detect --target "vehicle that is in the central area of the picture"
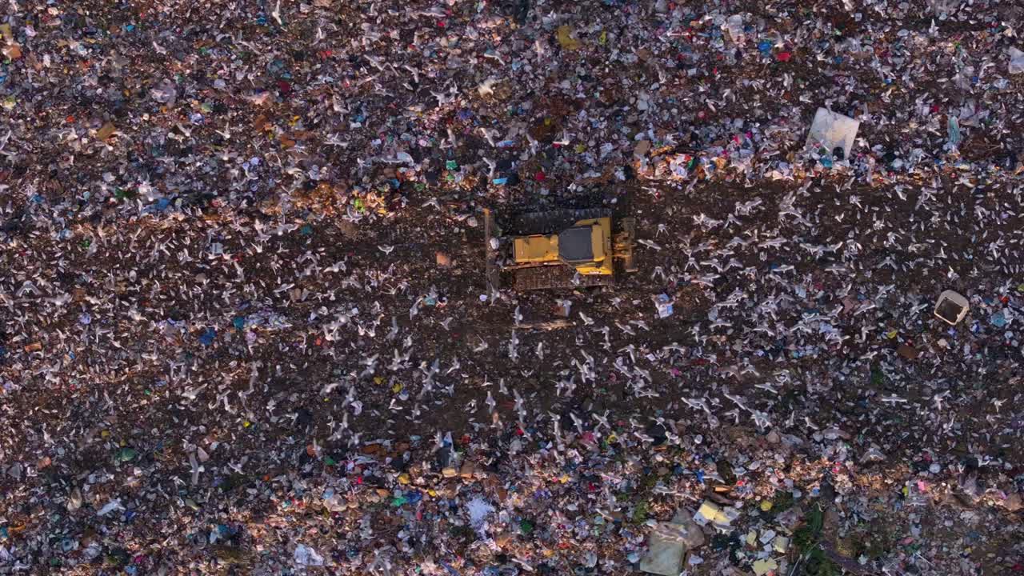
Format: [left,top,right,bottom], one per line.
[472,205,643,303]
